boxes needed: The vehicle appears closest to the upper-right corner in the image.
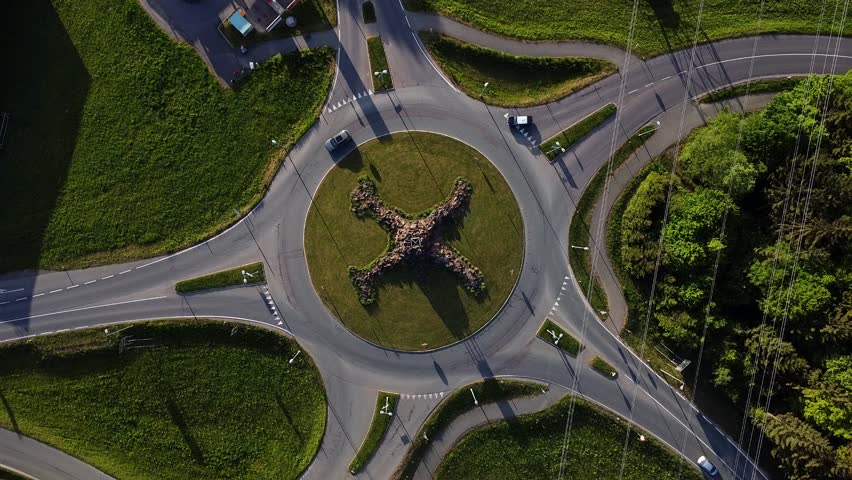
[507,115,533,128]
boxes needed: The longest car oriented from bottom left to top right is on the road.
[324,128,353,153]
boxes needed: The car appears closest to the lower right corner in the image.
[695,453,719,479]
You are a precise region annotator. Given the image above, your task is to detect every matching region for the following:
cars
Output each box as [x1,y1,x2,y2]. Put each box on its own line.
[324,128,353,153]
[507,115,533,128]
[695,453,719,479]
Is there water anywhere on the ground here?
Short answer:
No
